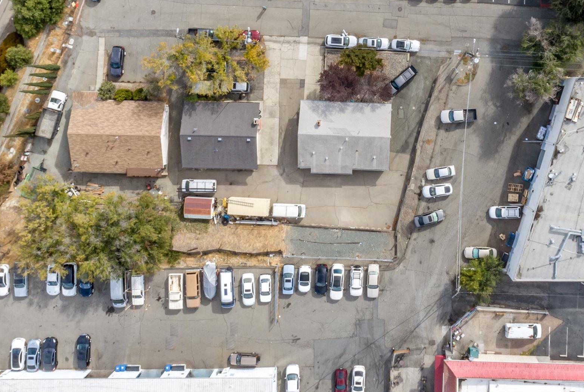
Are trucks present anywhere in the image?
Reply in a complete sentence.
Yes, this view includes a truck.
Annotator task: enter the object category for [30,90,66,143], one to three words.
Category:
truck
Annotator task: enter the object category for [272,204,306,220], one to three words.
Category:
vehicle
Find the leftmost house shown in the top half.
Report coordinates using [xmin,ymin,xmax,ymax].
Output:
[66,92,168,177]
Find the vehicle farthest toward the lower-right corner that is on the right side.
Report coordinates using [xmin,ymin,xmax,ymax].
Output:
[504,324,541,339]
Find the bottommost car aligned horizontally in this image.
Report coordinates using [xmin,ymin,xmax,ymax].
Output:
[229,352,260,367]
